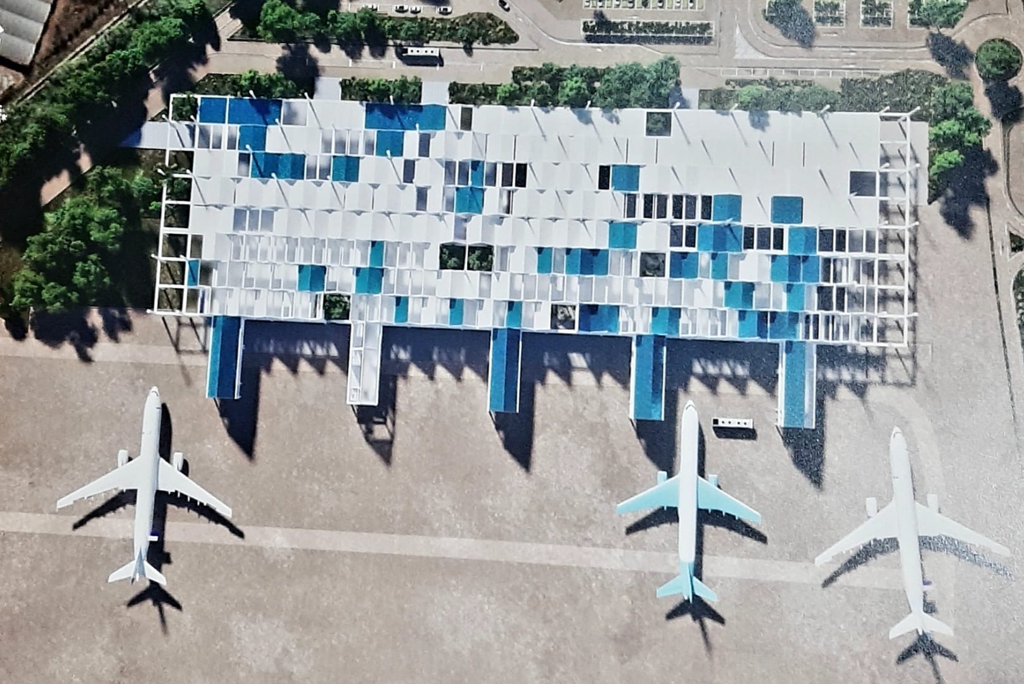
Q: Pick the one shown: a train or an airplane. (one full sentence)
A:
It is an airplane that can be seen here.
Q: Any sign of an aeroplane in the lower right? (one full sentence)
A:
Yes, looking in the lower right, one can make out an aeroplane.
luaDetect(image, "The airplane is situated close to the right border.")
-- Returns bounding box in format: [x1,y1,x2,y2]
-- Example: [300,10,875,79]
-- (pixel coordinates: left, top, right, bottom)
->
[814,427,1012,640]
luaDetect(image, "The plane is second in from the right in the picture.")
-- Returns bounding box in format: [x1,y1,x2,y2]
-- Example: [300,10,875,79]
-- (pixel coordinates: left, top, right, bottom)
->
[617,401,765,605]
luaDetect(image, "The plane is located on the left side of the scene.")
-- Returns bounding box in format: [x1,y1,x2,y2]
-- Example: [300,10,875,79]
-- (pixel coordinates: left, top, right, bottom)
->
[53,387,229,587]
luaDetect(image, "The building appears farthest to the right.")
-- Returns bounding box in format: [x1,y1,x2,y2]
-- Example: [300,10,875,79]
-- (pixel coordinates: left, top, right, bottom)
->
[145,91,920,345]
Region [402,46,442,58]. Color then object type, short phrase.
white vehicle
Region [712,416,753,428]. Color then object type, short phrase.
white vehicle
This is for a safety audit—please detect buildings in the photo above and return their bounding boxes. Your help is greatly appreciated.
[145,91,920,345]
[0,0,62,70]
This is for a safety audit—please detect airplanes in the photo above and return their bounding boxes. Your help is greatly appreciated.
[53,387,229,587]
[617,401,765,605]
[814,427,1012,640]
